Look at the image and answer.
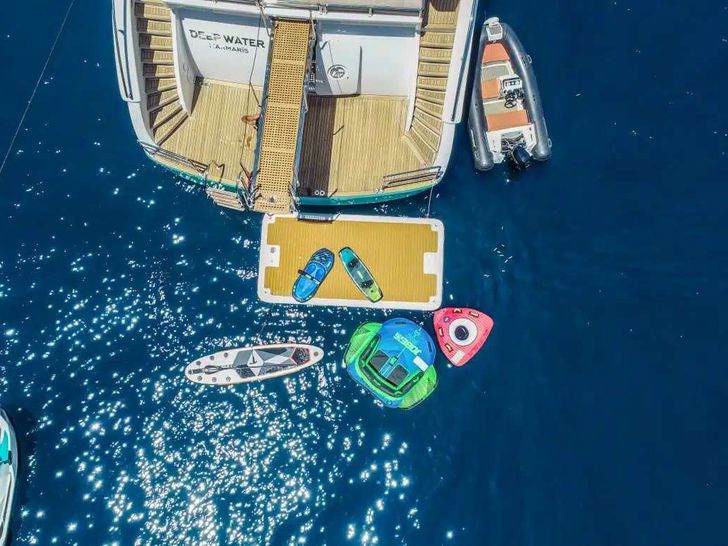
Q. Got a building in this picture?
No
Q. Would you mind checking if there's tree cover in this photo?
No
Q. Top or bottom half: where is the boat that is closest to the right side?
top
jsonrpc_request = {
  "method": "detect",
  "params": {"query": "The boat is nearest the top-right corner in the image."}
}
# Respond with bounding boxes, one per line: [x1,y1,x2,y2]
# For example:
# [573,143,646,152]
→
[470,16,551,171]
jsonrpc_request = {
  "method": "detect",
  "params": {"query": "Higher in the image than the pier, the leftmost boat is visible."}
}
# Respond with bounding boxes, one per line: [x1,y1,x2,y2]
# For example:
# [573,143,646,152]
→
[113,0,481,215]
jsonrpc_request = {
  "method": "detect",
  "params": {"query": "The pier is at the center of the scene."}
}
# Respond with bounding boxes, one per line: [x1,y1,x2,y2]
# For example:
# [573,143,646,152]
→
[259,213,444,310]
